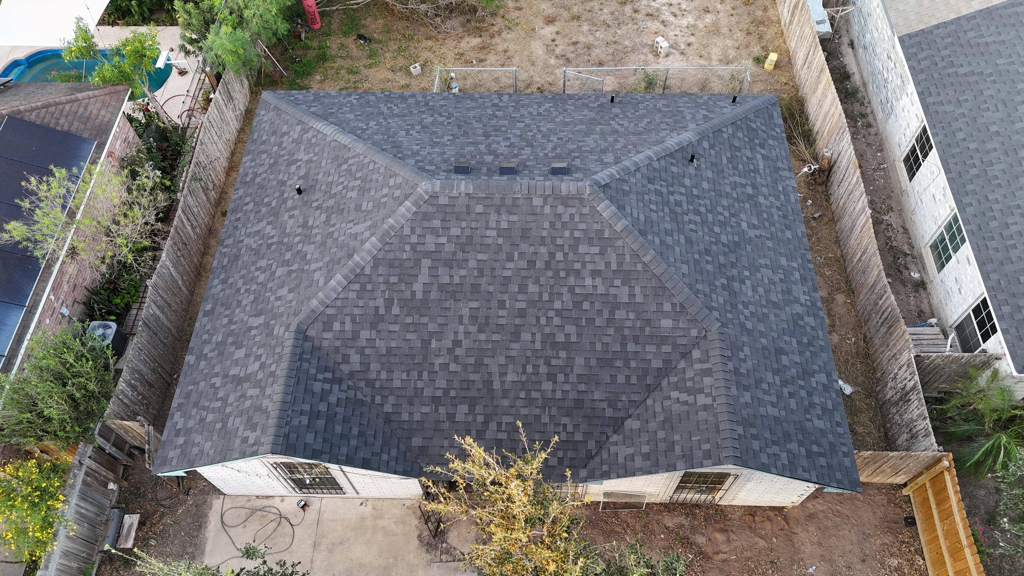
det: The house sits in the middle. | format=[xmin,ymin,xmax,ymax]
[154,89,864,508]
